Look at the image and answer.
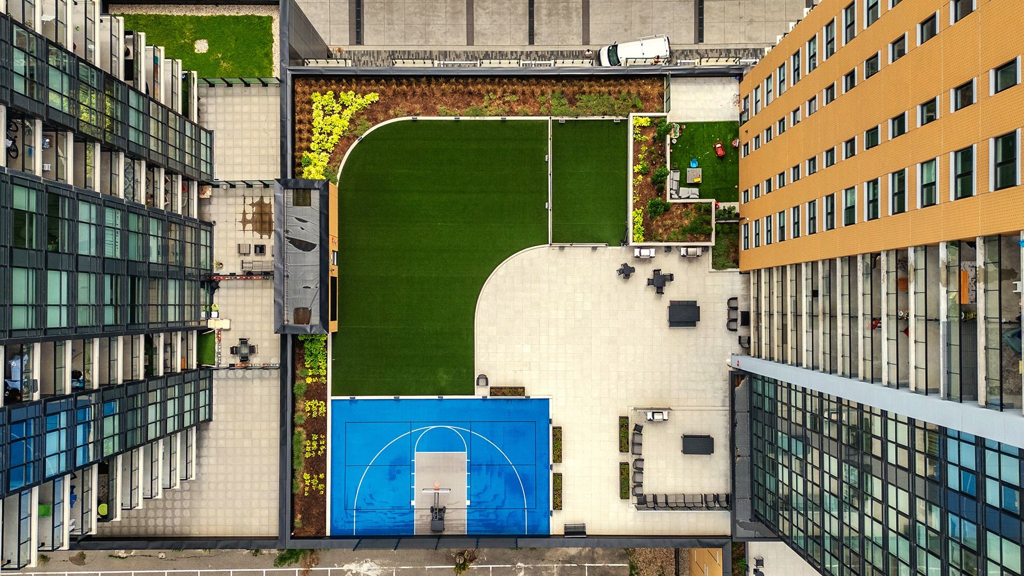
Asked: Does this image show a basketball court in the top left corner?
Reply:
No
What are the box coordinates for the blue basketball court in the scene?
[331,399,550,535]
